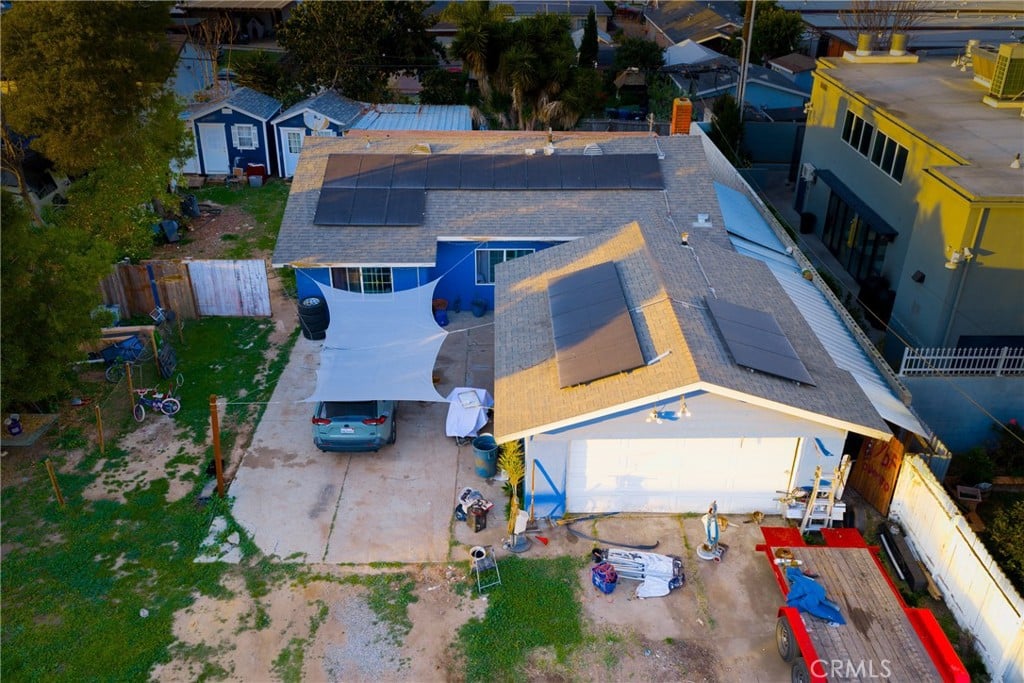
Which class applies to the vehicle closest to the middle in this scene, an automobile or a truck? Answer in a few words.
automobile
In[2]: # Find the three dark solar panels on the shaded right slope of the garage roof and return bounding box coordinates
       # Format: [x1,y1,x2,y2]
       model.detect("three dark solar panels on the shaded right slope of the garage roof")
[700,284,819,382]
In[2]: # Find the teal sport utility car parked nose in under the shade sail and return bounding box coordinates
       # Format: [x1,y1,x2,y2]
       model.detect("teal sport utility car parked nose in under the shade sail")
[312,403,400,451]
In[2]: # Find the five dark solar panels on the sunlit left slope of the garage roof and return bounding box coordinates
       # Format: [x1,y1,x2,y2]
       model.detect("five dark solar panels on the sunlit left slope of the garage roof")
[547,257,642,385]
